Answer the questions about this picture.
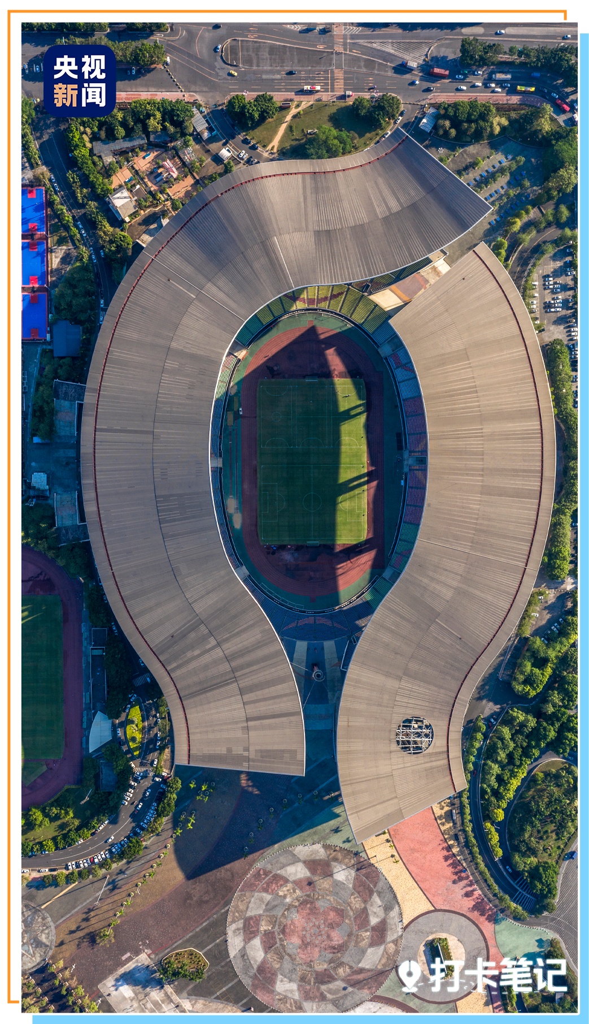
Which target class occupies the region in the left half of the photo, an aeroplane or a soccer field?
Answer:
soccer field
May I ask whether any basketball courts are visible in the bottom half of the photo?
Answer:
No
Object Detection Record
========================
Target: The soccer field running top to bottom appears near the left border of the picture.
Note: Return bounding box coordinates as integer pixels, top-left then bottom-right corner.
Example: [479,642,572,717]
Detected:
[0,595,64,759]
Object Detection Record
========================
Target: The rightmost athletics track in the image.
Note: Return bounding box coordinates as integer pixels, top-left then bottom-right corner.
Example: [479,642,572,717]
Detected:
[226,320,384,602]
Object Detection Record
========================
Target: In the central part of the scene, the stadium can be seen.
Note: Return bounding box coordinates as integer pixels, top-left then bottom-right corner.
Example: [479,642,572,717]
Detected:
[80,127,556,844]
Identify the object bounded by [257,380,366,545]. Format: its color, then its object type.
green soccer field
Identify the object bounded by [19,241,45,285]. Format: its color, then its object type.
blue basketball court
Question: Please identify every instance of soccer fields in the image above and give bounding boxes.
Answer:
[257,380,366,545]
[0,595,64,759]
